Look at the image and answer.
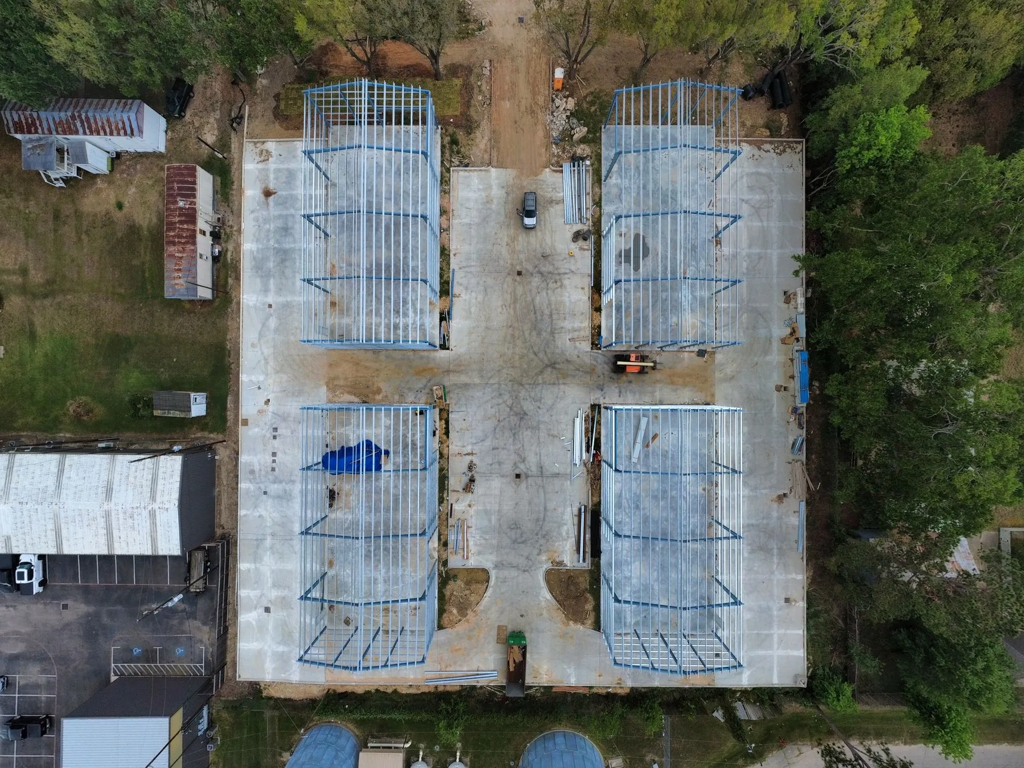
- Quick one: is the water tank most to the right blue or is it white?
blue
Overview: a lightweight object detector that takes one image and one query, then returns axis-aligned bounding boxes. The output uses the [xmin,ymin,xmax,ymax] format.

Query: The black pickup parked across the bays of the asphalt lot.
[8,714,56,735]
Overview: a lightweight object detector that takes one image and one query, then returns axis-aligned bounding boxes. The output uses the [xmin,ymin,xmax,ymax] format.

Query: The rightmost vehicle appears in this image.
[615,353,660,374]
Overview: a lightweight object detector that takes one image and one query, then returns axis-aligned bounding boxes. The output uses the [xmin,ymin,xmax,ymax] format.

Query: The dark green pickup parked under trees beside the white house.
[169,75,194,118]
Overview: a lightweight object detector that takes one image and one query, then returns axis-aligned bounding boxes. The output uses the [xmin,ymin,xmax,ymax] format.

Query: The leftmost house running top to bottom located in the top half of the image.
[164,163,225,302]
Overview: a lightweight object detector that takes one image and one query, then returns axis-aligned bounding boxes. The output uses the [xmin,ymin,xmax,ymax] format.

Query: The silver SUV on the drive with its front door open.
[513,192,537,229]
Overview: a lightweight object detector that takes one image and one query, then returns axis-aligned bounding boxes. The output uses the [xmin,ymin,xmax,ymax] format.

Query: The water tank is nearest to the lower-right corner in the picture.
[519,728,607,768]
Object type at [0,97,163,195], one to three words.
house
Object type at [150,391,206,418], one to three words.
shed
